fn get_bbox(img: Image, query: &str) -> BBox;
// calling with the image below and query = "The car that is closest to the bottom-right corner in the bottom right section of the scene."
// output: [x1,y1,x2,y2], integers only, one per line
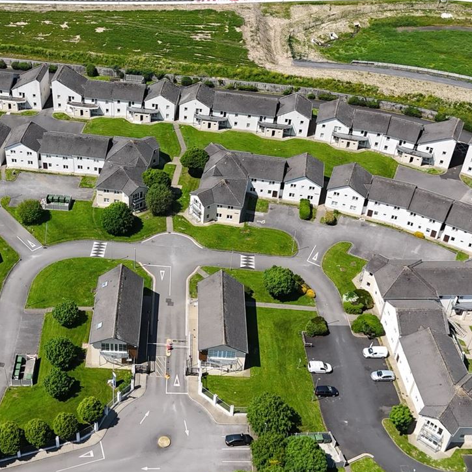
[371,368,396,380]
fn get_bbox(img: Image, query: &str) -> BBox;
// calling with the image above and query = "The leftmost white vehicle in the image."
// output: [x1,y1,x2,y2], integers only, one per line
[307,357,333,372]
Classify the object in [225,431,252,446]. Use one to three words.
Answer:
car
